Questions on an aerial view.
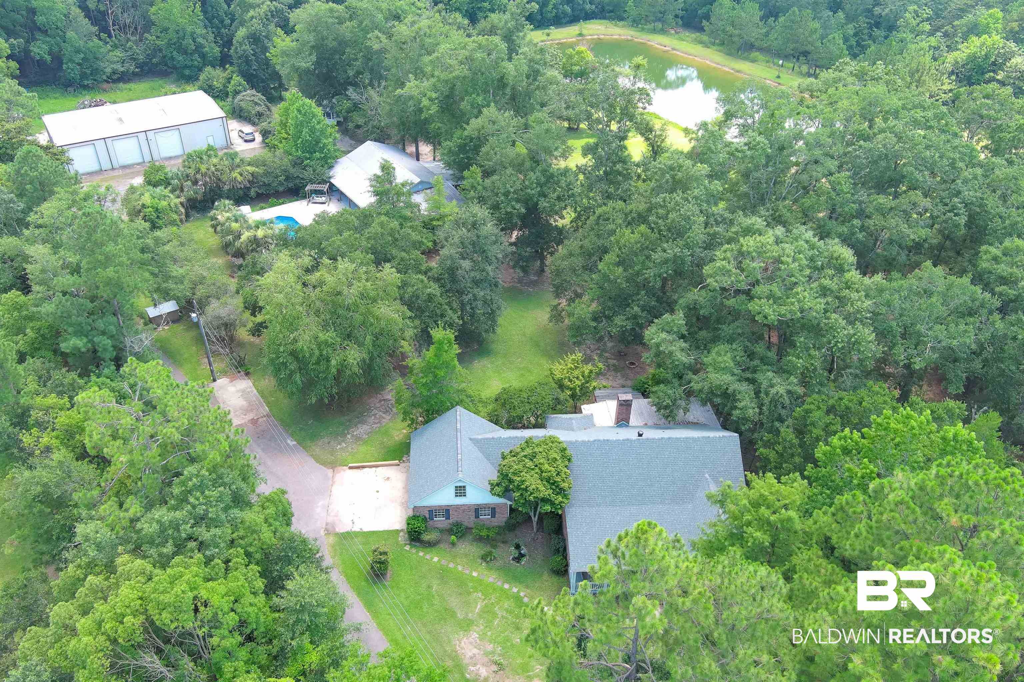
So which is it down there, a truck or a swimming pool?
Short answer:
swimming pool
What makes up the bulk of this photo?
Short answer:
trees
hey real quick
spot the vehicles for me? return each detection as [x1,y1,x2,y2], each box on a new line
[237,128,253,143]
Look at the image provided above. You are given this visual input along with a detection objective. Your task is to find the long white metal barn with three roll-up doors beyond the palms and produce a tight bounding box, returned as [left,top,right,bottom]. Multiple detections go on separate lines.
[41,88,231,178]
